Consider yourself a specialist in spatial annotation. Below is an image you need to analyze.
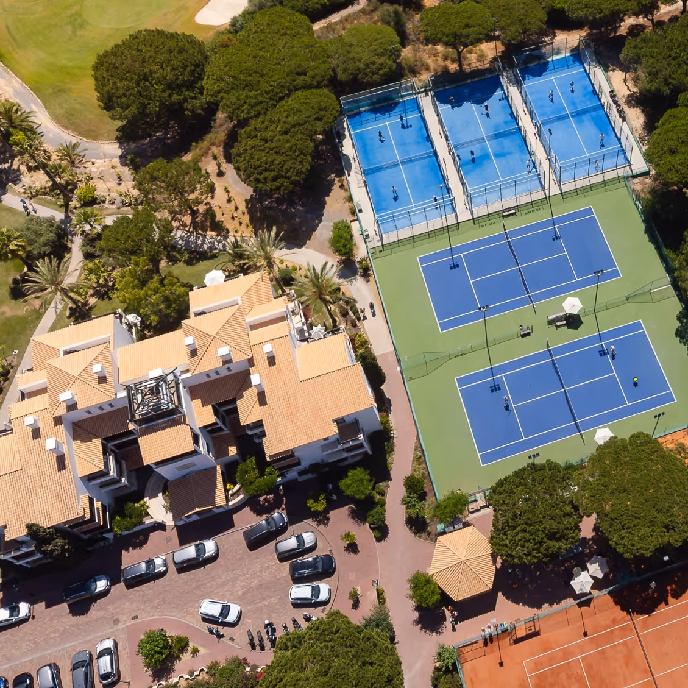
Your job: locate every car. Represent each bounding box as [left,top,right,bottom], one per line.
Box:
[273,531,317,559]
[195,598,242,626]
[61,574,107,605]
[240,512,287,548]
[287,581,330,605]
[7,669,35,688]
[92,637,118,687]
[119,555,165,584]
[68,649,94,688]
[0,600,30,626]
[288,552,334,578]
[35,659,61,688]
[171,539,217,569]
